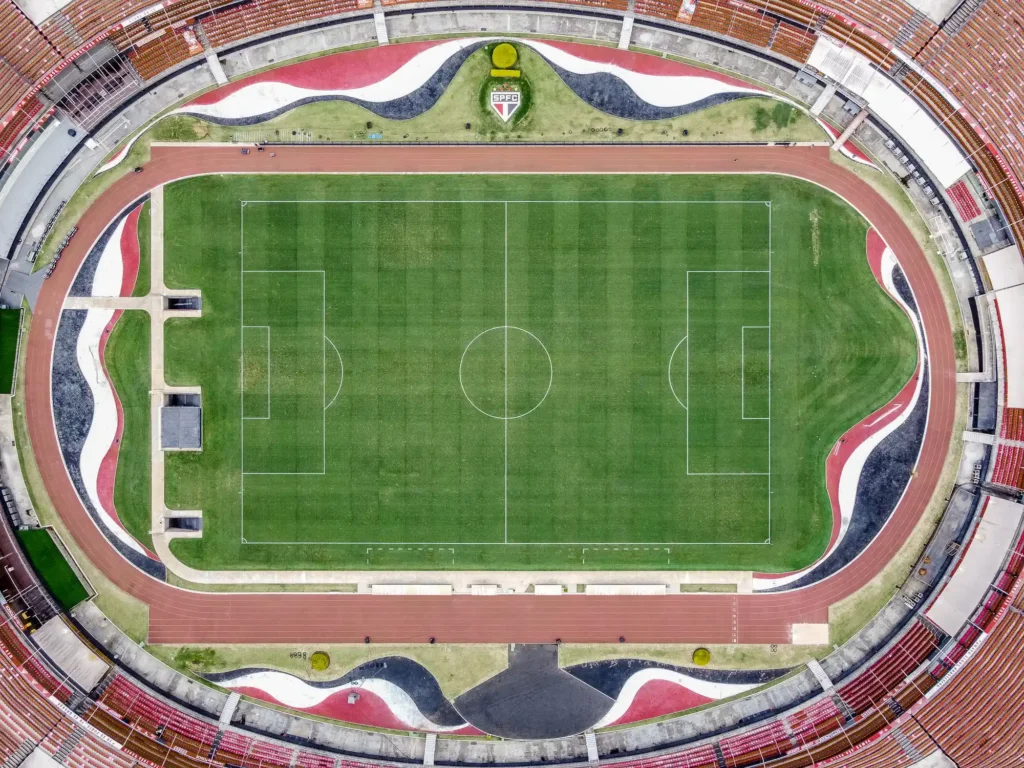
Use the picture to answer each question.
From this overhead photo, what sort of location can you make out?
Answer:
sports ground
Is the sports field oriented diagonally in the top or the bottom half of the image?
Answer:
bottom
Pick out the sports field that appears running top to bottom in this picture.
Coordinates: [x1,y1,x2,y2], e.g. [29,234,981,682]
[0,307,21,397]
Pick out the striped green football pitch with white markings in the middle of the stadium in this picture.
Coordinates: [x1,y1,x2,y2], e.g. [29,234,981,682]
[64,175,919,592]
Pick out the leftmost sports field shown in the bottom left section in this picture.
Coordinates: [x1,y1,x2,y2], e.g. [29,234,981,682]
[18,526,93,610]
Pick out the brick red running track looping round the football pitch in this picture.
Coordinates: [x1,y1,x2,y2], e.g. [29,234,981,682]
[25,143,956,644]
